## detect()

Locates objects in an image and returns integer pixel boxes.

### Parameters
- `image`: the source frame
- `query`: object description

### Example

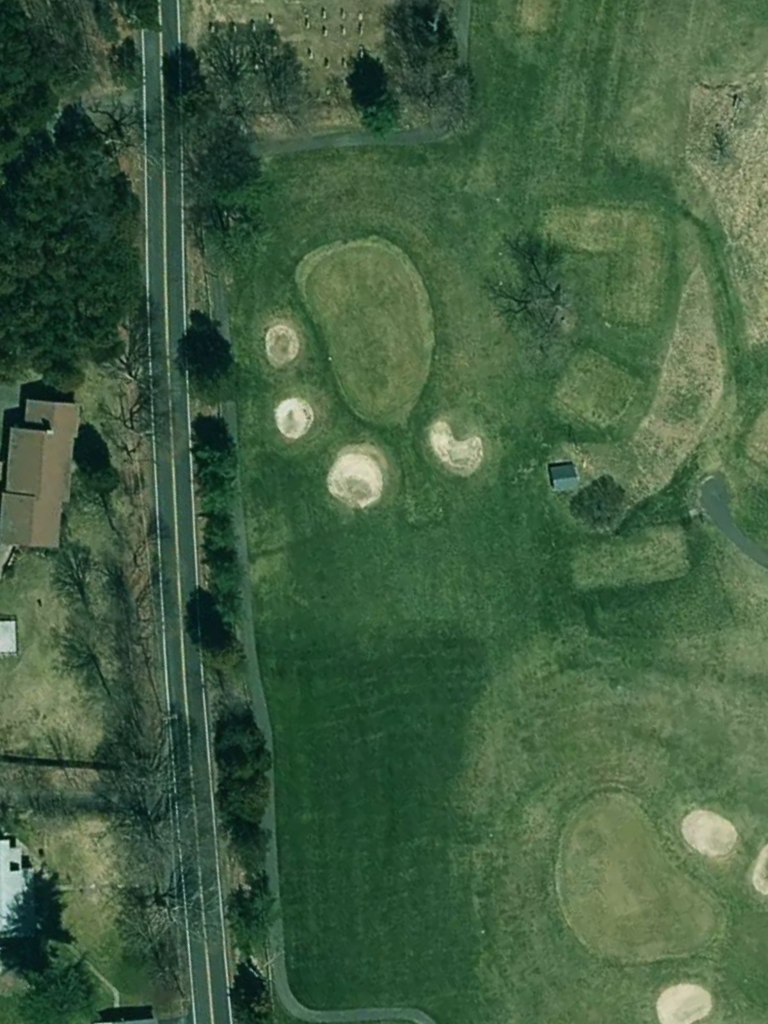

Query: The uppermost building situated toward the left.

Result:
[0,400,79,549]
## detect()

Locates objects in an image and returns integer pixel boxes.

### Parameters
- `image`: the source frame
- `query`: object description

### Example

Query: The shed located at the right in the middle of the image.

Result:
[547,460,580,492]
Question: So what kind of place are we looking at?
golf course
